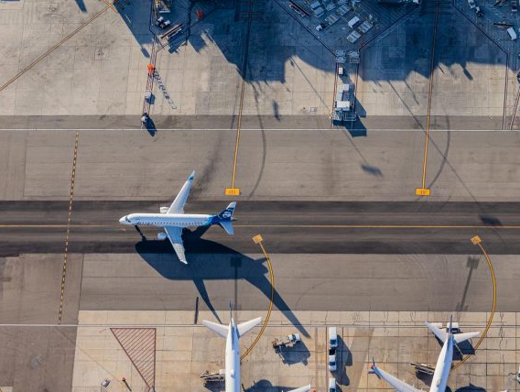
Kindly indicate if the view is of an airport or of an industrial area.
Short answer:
airport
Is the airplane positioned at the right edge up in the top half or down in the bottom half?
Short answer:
bottom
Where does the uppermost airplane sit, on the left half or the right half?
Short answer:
left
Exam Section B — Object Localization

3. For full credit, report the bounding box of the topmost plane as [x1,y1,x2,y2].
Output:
[120,171,236,265]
